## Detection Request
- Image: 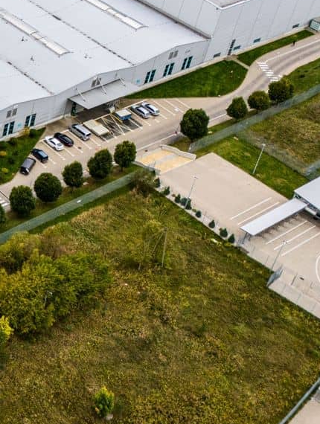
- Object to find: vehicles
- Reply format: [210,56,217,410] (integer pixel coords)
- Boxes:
[43,135,65,151]
[54,131,76,148]
[29,146,51,164]
[129,103,152,120]
[19,156,37,174]
[140,99,162,116]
